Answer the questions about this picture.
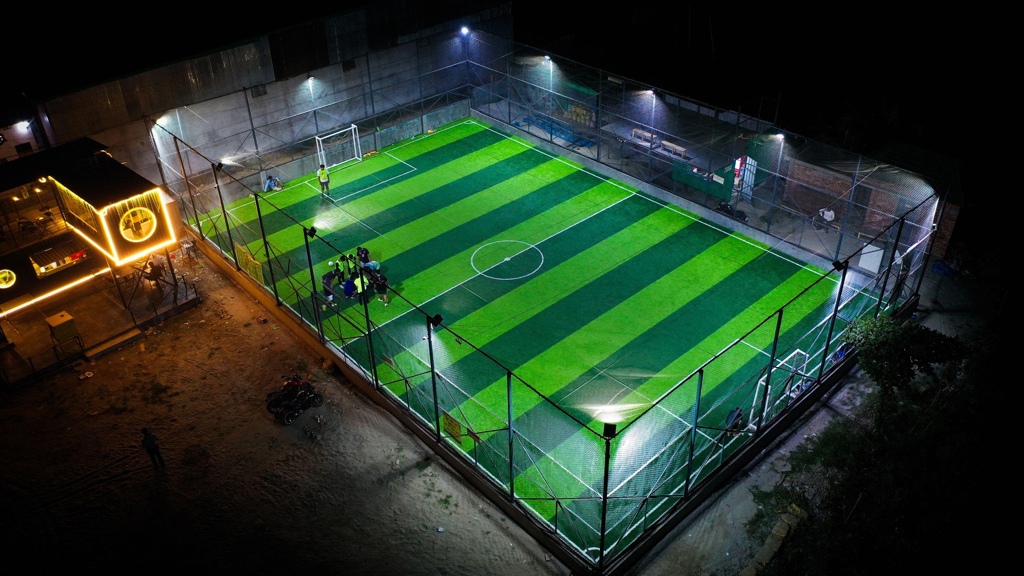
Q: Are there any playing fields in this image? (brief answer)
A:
Yes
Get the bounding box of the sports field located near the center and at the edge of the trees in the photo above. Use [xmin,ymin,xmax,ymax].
[185,117,894,566]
